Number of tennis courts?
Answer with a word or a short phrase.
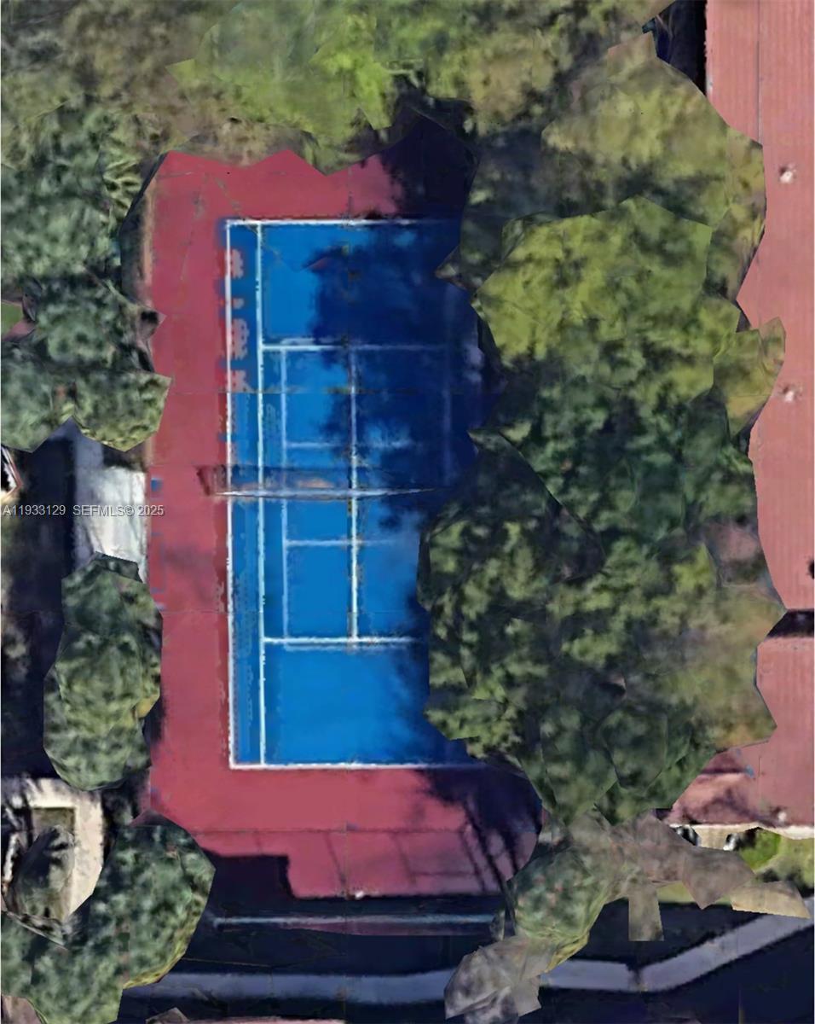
1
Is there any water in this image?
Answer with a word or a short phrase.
No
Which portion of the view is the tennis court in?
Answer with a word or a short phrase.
center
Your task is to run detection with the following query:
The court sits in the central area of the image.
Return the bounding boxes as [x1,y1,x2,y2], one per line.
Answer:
[149,101,560,937]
